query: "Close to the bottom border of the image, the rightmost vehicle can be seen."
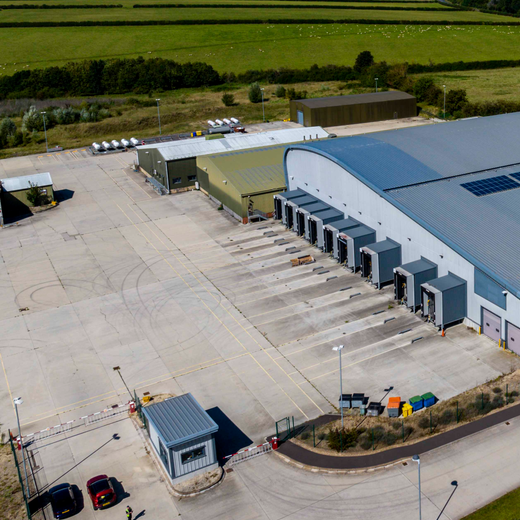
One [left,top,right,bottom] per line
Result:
[83,470,117,508]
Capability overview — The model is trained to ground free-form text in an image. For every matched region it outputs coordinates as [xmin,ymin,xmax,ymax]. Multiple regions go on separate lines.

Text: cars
[45,477,78,516]
[83,470,117,508]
